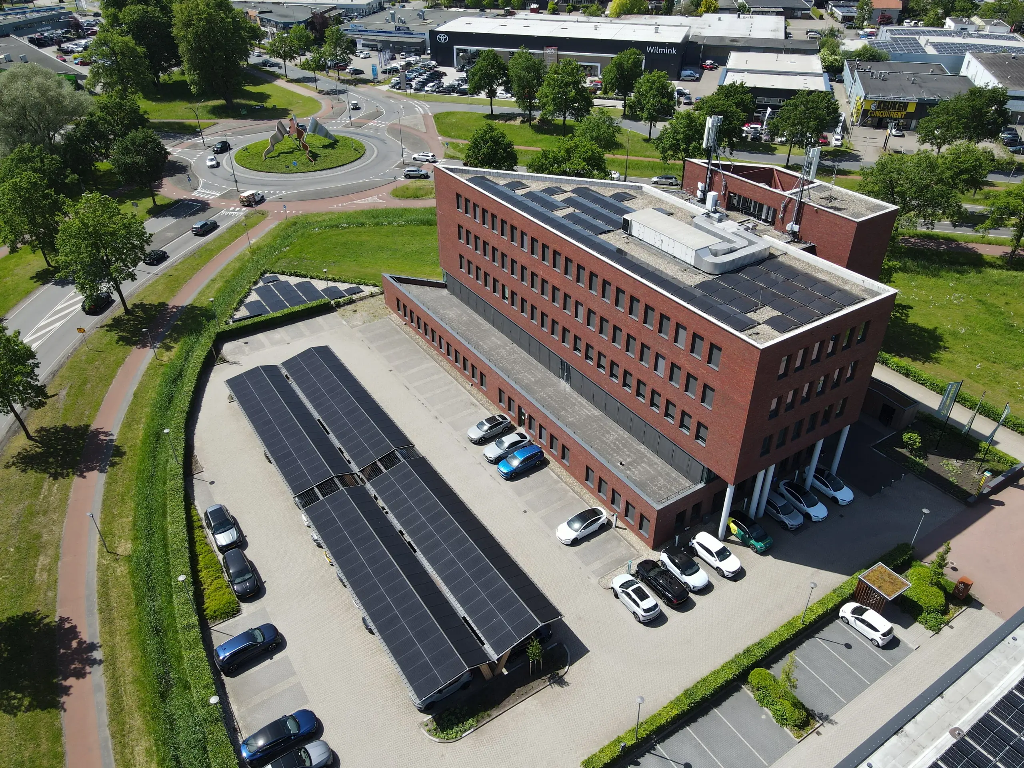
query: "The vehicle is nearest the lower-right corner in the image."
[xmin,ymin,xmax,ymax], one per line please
[836,601,901,655]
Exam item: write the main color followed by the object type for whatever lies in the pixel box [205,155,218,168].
white vehicle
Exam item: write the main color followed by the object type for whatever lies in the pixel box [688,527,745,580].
white car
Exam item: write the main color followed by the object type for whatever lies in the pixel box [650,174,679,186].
gray vehicle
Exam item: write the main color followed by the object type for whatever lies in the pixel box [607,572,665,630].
white car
